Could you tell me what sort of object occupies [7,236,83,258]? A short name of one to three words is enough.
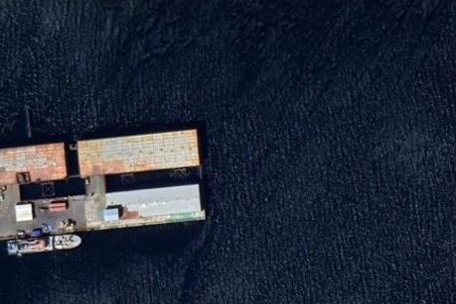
ship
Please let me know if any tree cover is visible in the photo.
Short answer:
No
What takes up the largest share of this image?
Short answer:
water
